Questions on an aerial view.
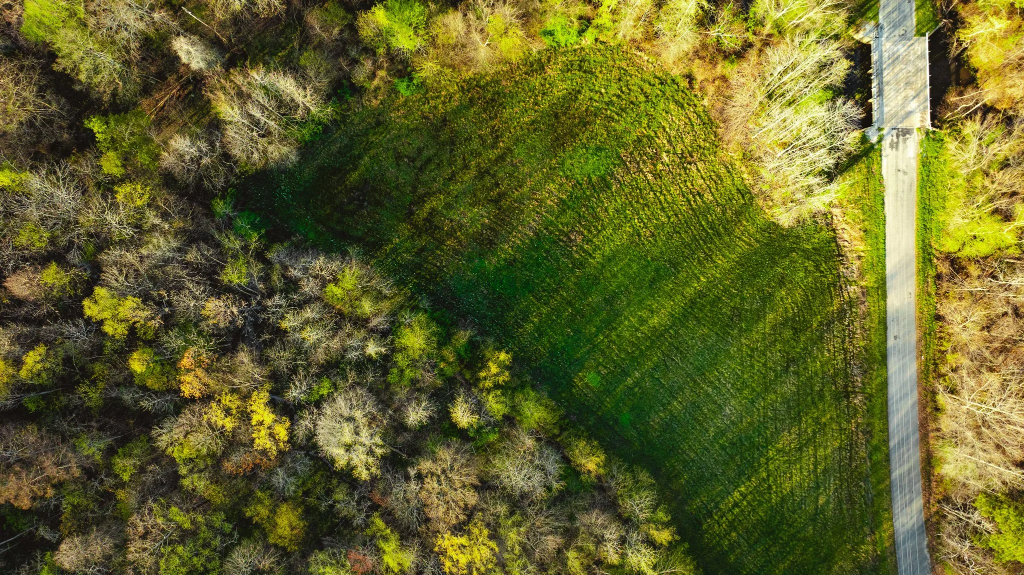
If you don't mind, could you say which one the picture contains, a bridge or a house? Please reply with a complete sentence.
It is a bridge that can be seen here.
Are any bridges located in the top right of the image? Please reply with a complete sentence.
Yes, a bridge appears in the top right of the image.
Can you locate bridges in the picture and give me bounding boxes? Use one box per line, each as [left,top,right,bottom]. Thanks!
[853,22,943,133]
